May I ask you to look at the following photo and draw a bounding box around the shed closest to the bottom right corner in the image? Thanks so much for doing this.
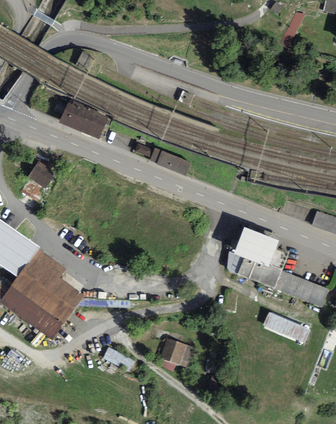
[264,312,311,345]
